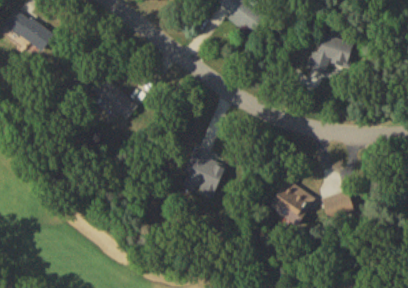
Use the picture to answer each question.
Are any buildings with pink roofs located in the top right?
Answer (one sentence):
No, I can find no building with a pink roof in the top right.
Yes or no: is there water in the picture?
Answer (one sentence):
No, the scene doesn't show any water.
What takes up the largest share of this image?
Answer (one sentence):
The bulk of the photo consists of trees.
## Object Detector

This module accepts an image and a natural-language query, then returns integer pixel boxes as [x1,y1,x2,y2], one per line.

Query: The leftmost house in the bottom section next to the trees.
[193,154,228,194]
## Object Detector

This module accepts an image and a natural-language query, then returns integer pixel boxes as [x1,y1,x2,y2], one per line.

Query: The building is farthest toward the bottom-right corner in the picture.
[322,195,354,218]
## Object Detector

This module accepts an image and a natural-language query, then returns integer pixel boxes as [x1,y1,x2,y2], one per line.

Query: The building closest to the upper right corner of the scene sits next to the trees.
[312,39,354,67]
